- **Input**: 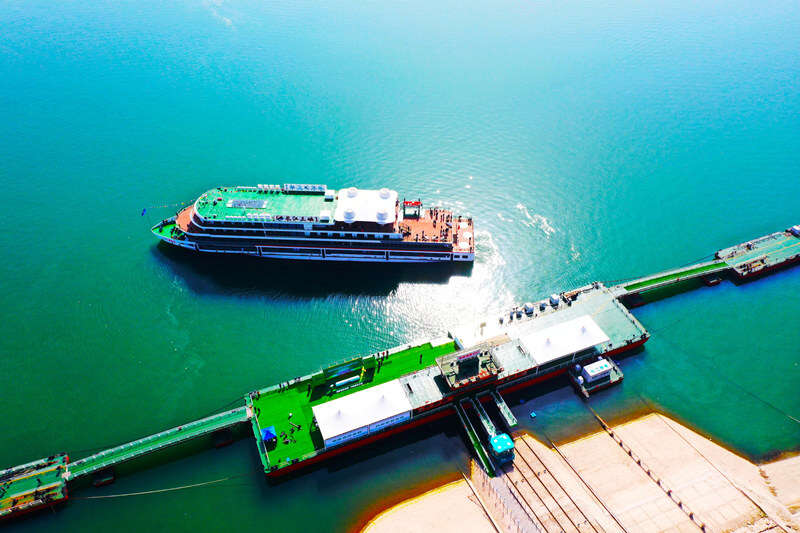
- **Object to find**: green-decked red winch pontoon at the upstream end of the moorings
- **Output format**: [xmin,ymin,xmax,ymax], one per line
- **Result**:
[0,453,70,518]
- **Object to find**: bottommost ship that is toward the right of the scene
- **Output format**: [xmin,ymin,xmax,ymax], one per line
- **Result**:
[569,357,627,406]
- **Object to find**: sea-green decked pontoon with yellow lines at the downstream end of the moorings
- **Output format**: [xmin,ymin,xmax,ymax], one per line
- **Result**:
[714,227,800,281]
